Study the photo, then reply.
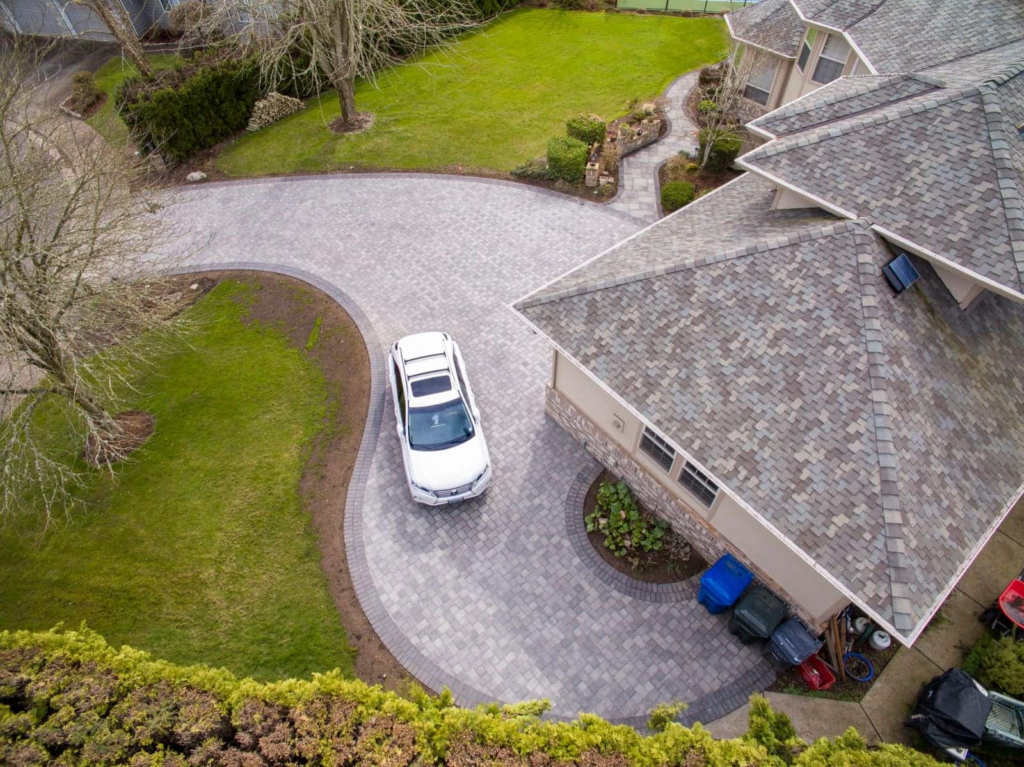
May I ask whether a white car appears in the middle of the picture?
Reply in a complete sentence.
Yes, you'll find a white car in the middle of the picture.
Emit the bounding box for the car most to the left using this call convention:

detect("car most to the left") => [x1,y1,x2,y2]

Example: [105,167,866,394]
[384,333,488,507]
